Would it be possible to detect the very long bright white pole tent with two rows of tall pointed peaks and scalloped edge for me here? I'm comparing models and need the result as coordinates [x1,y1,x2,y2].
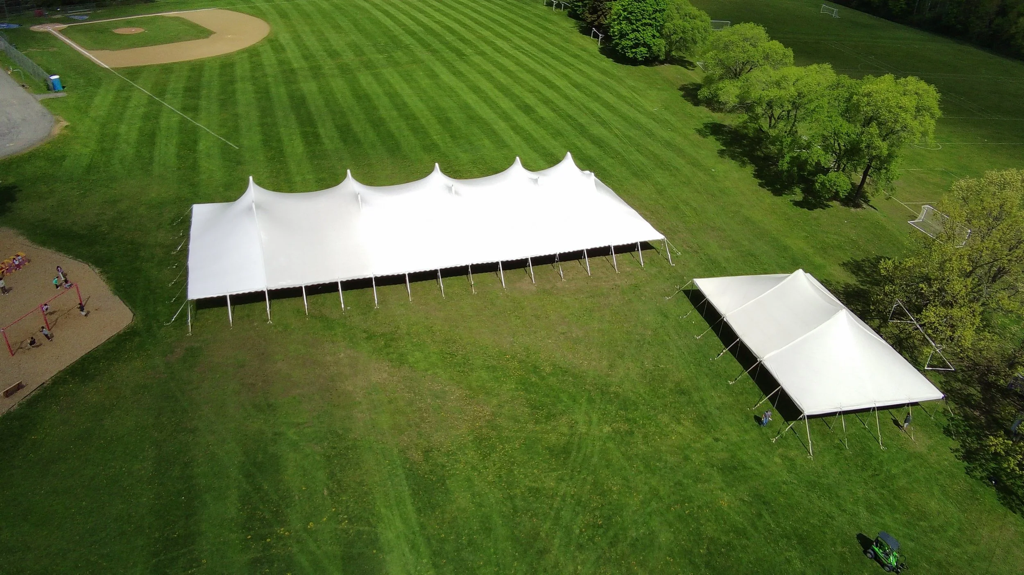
[162,149,680,336]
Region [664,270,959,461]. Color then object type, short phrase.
white tent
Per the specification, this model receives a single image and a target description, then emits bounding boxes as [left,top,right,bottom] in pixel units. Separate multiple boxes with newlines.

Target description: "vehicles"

[864,528,918,575]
